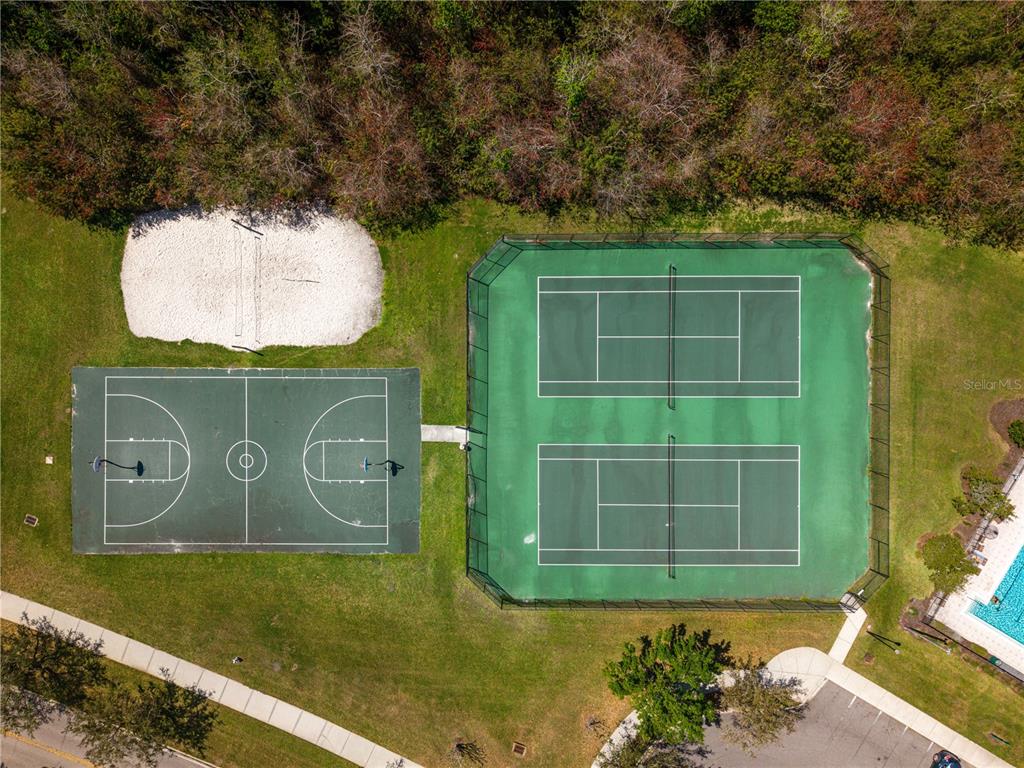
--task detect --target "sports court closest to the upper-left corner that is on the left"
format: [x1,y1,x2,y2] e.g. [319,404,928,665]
[121,200,384,352]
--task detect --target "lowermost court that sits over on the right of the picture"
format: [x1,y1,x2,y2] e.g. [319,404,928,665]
[538,444,801,575]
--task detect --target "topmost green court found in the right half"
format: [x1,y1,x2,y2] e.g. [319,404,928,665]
[538,276,801,398]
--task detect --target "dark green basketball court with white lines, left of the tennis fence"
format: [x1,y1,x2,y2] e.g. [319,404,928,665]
[72,367,420,554]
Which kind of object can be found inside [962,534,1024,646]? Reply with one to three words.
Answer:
swimming pool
